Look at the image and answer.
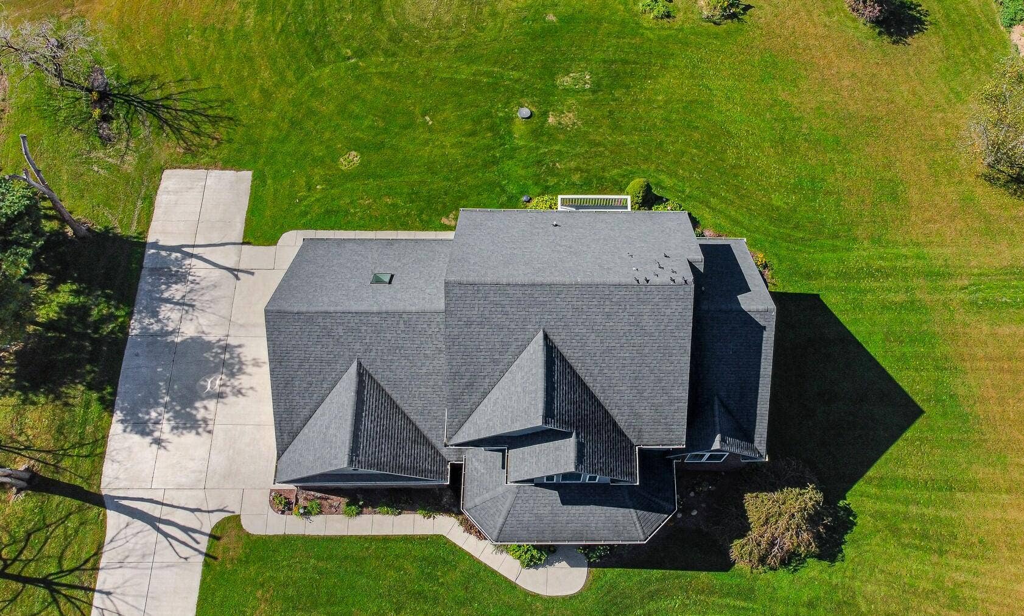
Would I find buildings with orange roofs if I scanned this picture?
No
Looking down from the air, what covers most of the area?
grass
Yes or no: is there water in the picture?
No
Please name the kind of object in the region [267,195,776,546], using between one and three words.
house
